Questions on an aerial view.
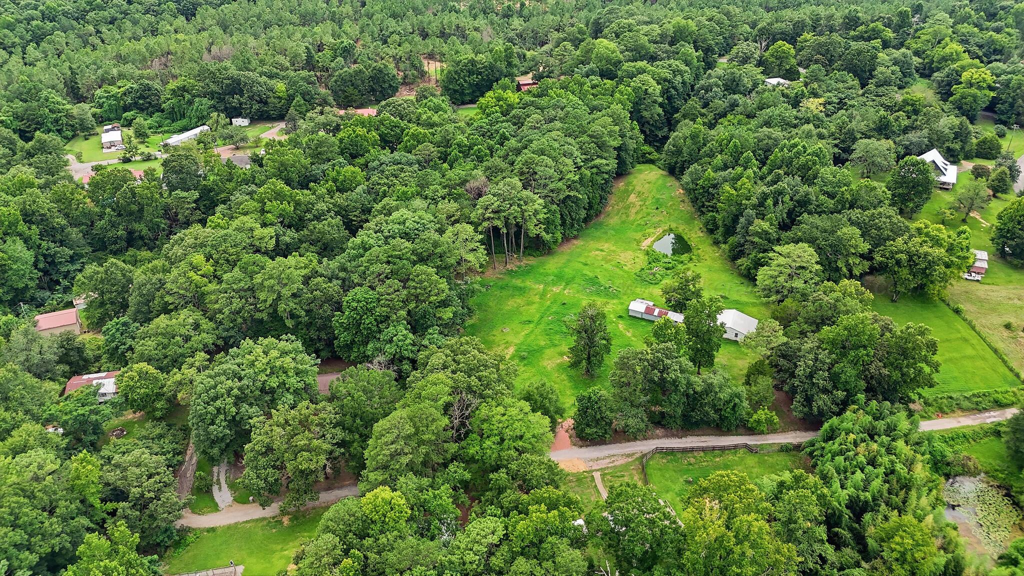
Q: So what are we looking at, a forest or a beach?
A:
forest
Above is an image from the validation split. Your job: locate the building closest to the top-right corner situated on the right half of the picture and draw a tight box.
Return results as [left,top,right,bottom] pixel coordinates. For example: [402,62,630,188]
[912,149,963,191]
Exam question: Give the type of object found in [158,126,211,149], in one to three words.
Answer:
house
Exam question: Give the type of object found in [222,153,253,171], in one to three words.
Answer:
house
